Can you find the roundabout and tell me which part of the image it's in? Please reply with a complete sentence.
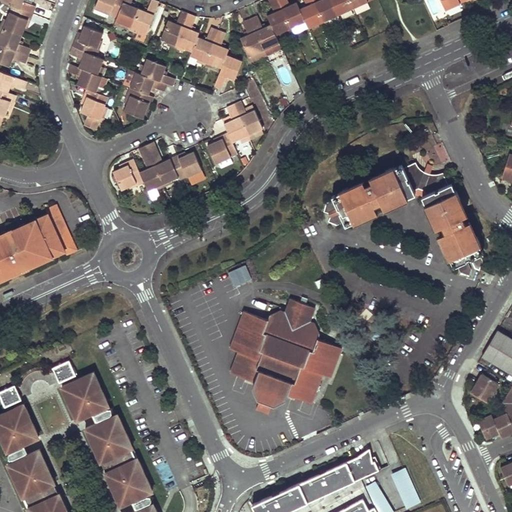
The roundabout appears toward the left of the photo.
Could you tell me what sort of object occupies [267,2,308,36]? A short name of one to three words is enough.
house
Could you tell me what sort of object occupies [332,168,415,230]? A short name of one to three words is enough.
building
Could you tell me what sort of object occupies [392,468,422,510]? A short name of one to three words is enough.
shed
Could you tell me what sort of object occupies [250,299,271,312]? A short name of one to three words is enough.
vehicle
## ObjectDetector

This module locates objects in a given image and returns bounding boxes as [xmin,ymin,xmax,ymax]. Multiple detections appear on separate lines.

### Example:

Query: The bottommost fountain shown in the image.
[30,374,51,396]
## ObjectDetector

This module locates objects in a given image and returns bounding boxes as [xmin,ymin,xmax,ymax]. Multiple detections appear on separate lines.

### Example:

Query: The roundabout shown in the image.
[98,227,157,286]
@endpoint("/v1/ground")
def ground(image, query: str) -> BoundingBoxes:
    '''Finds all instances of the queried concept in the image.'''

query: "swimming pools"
[277,65,292,86]
[9,68,22,76]
[115,69,126,80]
[429,0,442,16]
[110,46,120,58]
